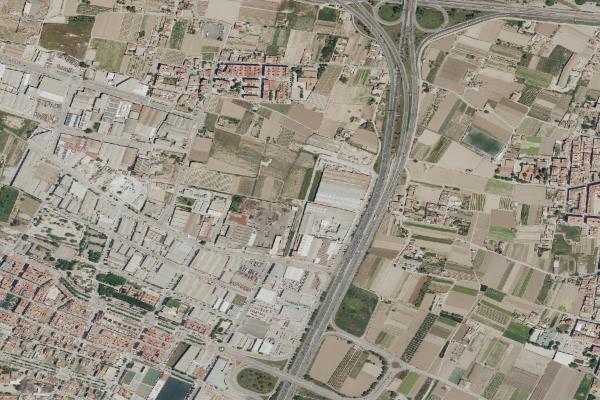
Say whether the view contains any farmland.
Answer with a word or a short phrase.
Yes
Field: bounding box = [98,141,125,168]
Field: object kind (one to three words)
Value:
building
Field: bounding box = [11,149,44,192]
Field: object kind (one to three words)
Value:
building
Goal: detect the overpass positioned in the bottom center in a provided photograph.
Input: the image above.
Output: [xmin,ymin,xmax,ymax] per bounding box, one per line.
[244,354,346,400]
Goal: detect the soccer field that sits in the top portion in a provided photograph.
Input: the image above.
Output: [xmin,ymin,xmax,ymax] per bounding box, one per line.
[463,122,507,158]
